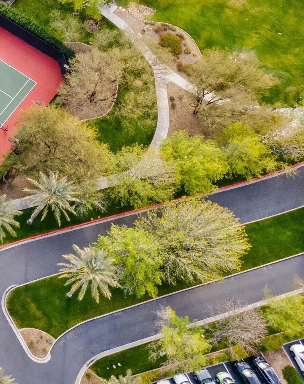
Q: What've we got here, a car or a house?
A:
car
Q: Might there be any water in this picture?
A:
No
